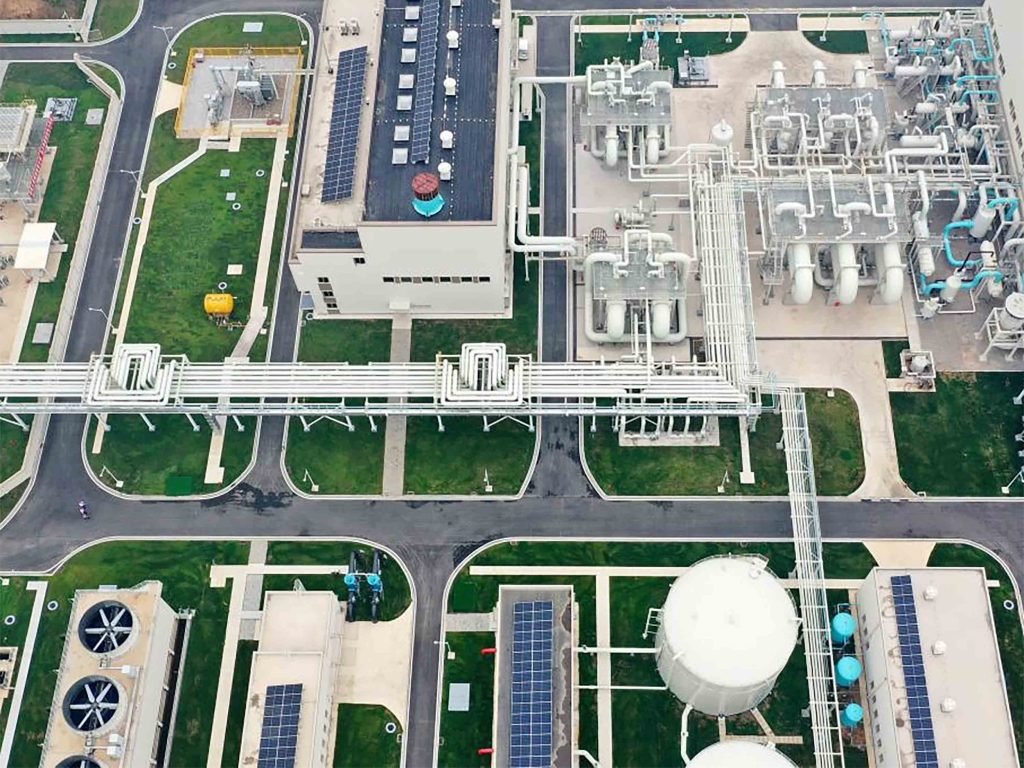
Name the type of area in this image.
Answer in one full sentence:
It's an industrial area.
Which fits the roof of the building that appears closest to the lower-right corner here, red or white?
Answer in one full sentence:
The roof of the building that appears closest to the lower-right corner looks white in the image.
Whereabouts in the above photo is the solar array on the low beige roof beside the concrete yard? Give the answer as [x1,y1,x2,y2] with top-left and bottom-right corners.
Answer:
[257,684,303,768]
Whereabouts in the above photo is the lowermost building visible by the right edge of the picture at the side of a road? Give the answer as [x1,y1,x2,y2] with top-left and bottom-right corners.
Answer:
[859,569,1019,768]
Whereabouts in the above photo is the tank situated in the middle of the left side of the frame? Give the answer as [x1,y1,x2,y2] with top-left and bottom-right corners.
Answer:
[202,293,247,323]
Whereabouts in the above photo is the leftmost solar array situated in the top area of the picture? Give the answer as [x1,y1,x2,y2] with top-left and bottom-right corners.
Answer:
[323,46,368,201]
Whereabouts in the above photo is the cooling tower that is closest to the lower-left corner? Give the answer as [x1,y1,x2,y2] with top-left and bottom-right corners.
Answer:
[35,582,204,768]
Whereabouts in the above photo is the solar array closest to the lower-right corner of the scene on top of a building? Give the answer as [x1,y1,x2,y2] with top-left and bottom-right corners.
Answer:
[890,574,938,768]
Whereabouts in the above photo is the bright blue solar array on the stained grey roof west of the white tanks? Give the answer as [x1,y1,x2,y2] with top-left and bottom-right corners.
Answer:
[509,602,552,768]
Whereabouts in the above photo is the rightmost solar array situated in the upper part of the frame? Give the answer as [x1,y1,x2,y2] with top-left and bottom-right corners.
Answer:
[412,0,441,162]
